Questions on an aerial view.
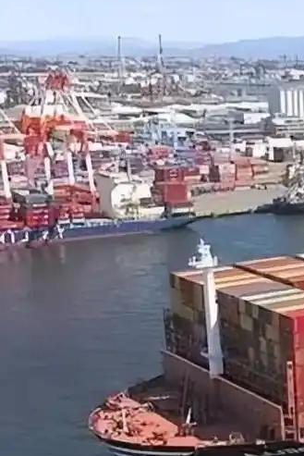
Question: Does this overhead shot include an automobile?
No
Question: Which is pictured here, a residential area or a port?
port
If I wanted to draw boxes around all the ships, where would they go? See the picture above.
[257,160,304,214]
[0,164,215,248]
[81,240,304,456]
